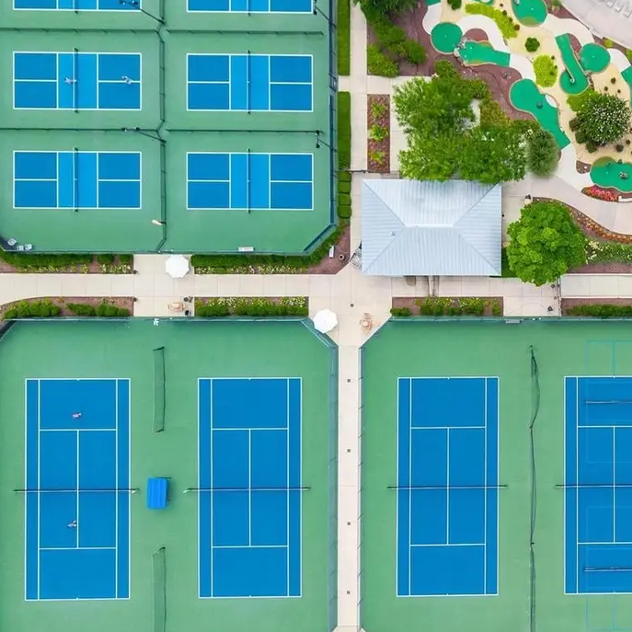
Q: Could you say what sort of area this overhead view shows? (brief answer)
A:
sports ground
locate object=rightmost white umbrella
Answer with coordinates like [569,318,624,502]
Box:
[313,309,338,333]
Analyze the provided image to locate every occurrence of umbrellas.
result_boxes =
[167,254,192,278]
[313,309,338,333]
